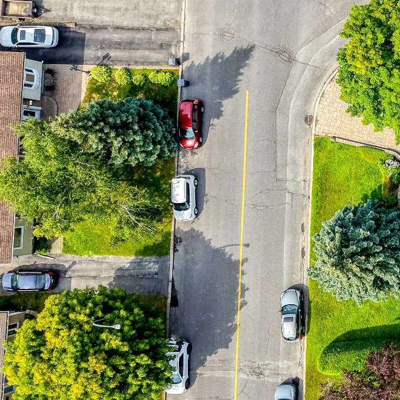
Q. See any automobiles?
Yes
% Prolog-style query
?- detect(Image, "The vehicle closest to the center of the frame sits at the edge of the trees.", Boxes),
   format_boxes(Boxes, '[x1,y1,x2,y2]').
[168,175,201,220]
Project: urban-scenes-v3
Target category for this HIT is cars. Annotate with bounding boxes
[0,22,60,49]
[160,340,194,394]
[0,267,57,295]
[168,175,201,220]
[274,383,301,400]
[176,100,205,149]
[276,289,307,341]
